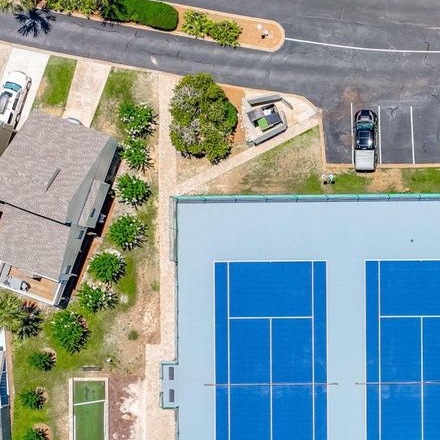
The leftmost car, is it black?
No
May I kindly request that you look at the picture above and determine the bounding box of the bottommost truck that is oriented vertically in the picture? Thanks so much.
[351,111,379,175]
